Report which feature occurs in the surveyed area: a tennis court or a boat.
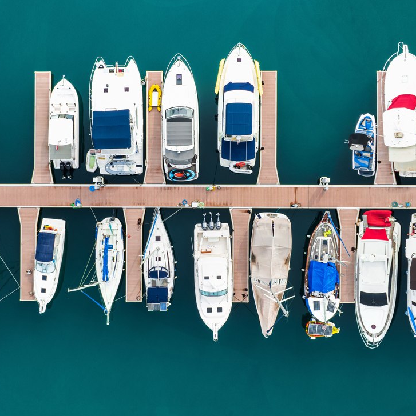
boat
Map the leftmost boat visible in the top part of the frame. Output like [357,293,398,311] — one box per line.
[49,75,81,180]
